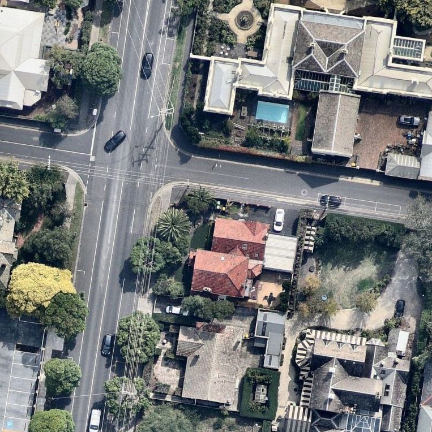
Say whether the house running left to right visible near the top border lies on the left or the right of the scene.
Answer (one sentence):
The house running left to right visible near the top border appears in the right half of the scene.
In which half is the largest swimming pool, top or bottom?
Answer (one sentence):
You can find the largest swimming pool in the top half.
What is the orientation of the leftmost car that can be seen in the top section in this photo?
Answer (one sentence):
The leftmost car that can be seen in the top section is oriented diagonally.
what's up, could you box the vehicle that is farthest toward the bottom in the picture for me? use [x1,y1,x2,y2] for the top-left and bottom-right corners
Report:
[87,409,101,432]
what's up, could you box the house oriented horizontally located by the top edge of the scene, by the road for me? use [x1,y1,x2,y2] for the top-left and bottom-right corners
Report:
[187,1,432,117]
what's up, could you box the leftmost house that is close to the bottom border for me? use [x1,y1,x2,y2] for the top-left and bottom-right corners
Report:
[175,324,248,412]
